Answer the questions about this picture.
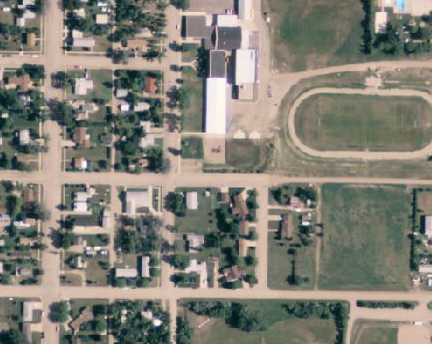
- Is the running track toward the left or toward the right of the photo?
right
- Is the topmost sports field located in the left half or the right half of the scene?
right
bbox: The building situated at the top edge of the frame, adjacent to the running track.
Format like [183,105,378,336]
[186,0,254,133]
